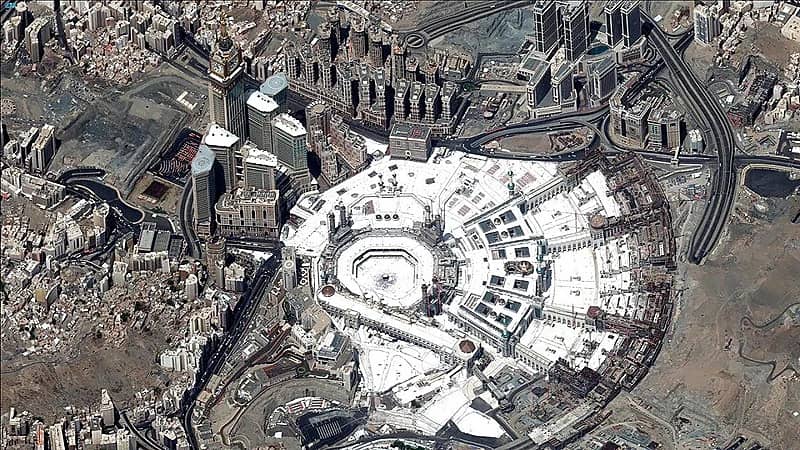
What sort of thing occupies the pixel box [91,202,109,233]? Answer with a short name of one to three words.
building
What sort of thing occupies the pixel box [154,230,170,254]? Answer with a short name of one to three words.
shed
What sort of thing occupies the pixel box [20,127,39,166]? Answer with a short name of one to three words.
building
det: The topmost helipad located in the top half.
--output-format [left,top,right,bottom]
[267,76,283,89]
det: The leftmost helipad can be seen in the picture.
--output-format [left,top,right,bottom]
[195,154,212,168]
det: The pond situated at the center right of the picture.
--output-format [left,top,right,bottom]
[745,166,800,198]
